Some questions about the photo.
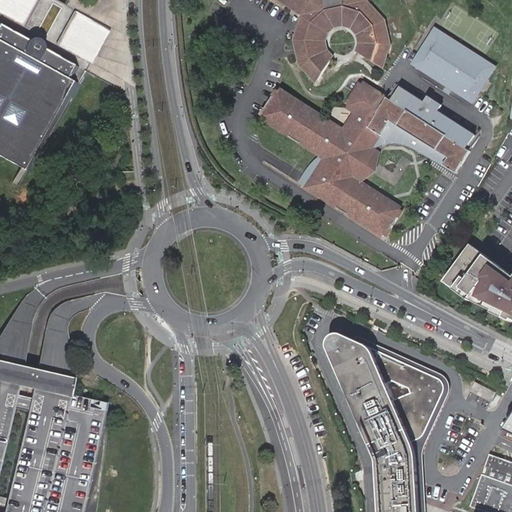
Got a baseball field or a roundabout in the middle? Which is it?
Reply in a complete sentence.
Visible in the middle is a roundabout.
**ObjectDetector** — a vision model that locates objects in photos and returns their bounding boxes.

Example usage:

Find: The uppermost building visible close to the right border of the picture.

[410,22,498,105]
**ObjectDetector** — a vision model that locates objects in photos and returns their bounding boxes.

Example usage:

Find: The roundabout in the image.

[140,204,273,338]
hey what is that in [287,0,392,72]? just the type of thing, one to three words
building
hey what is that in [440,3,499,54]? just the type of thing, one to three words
sports court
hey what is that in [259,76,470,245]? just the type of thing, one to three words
building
